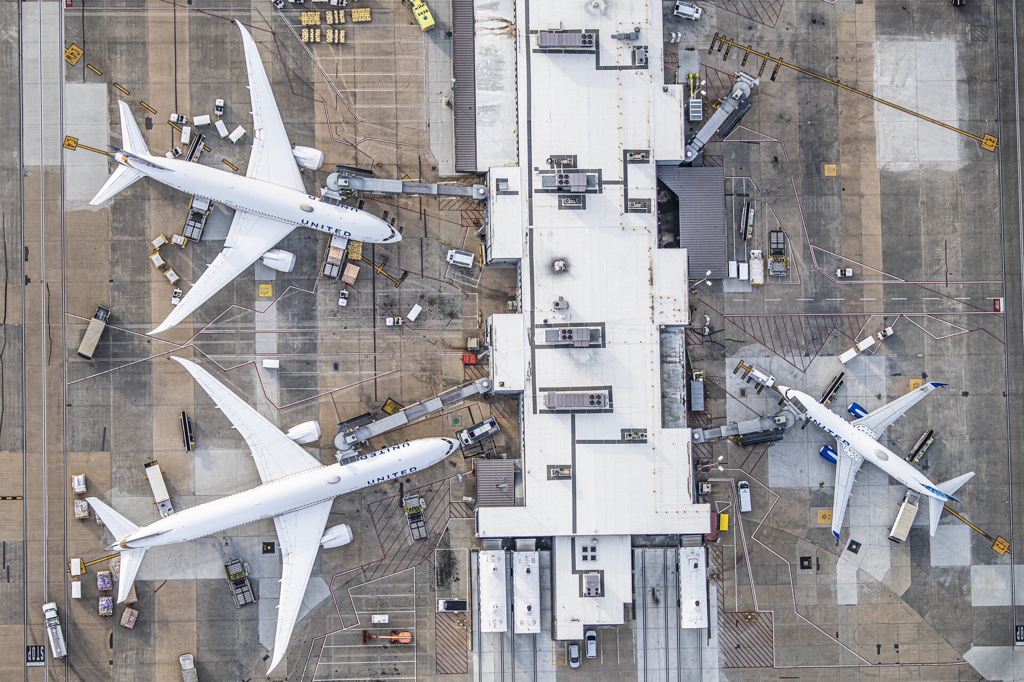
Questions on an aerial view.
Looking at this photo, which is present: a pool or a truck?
truck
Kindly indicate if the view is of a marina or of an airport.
airport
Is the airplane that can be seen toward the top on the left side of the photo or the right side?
left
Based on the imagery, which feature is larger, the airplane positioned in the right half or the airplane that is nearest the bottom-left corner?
the airplane that is nearest the bottom-left corner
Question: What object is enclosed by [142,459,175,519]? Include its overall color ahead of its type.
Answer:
white truck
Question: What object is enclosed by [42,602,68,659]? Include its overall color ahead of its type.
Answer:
white truck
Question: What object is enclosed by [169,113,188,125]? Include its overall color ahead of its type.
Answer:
white vehicle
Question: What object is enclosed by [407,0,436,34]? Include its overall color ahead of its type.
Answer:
yellow van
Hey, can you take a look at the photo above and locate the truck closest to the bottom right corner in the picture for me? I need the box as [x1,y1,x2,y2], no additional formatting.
[885,488,917,543]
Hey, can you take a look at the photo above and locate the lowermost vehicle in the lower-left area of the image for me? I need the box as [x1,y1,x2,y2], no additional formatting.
[177,652,197,682]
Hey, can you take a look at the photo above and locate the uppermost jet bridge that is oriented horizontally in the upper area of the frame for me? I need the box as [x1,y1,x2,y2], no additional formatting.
[320,165,488,205]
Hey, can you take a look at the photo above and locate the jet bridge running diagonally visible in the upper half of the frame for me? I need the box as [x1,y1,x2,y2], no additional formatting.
[680,71,759,165]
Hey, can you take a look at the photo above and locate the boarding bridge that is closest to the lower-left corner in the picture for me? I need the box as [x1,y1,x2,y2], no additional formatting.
[333,375,491,465]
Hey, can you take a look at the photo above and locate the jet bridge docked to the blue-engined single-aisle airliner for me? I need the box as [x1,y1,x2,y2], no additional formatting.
[690,396,807,446]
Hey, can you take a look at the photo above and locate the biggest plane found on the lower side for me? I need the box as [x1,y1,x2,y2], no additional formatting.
[83,356,462,676]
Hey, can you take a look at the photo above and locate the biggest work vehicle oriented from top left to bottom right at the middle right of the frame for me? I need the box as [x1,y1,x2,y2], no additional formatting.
[746,363,778,389]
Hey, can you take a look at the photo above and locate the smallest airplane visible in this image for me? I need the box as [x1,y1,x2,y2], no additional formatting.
[777,382,978,548]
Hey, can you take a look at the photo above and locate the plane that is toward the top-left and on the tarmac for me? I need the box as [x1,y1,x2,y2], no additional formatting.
[87,20,404,337]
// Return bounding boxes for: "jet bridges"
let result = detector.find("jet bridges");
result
[680,71,759,165]
[333,375,491,465]
[320,165,488,205]
[690,396,807,446]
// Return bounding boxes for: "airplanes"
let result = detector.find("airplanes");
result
[83,356,462,676]
[777,382,978,548]
[87,20,404,337]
